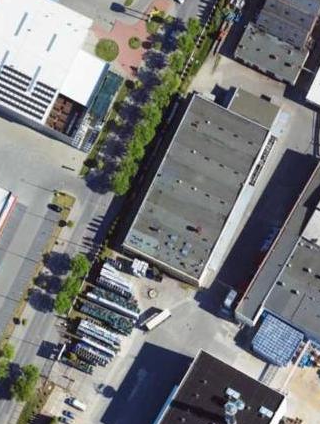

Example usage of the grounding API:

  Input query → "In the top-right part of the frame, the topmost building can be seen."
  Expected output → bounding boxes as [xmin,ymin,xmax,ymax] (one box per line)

[251,0,320,56]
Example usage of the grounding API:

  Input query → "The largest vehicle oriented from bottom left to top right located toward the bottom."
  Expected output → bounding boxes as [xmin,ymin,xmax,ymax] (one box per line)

[145,312,174,332]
